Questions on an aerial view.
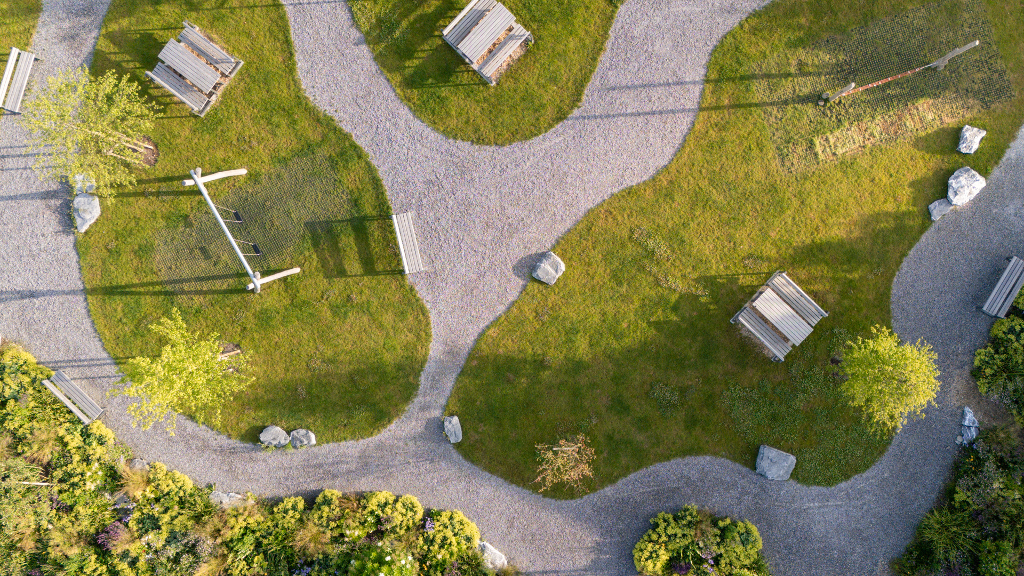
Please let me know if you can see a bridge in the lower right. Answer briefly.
No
